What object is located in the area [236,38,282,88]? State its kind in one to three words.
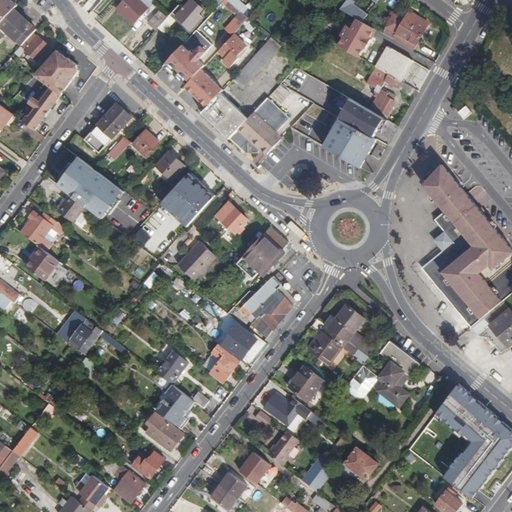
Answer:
building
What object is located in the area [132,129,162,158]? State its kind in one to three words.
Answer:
house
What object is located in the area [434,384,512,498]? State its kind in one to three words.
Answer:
building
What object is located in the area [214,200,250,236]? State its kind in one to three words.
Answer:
house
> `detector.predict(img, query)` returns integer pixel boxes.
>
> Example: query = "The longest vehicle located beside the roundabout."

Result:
[292,221,312,240]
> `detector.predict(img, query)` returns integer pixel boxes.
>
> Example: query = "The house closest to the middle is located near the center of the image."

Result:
[240,225,288,278]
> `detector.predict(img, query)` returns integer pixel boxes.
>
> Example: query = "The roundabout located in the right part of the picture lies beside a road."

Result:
[309,188,388,268]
